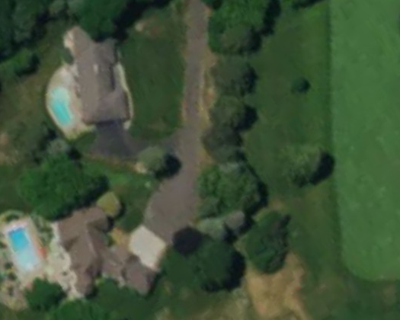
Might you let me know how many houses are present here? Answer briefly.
2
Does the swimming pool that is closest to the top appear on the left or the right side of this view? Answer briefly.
left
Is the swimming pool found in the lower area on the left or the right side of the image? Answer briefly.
left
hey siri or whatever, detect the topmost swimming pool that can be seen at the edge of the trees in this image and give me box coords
[46,64,95,139]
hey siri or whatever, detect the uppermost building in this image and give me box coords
[65,23,130,126]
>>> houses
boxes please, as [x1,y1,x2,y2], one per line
[51,197,164,302]
[65,23,130,126]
